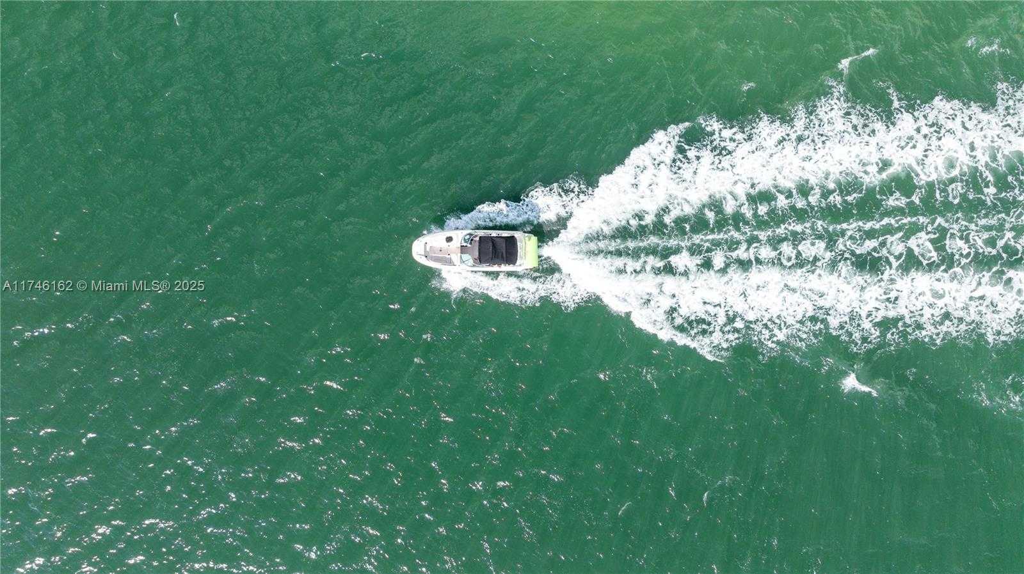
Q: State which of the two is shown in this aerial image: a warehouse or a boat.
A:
boat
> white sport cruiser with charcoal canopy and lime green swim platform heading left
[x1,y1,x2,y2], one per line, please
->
[412,230,538,272]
